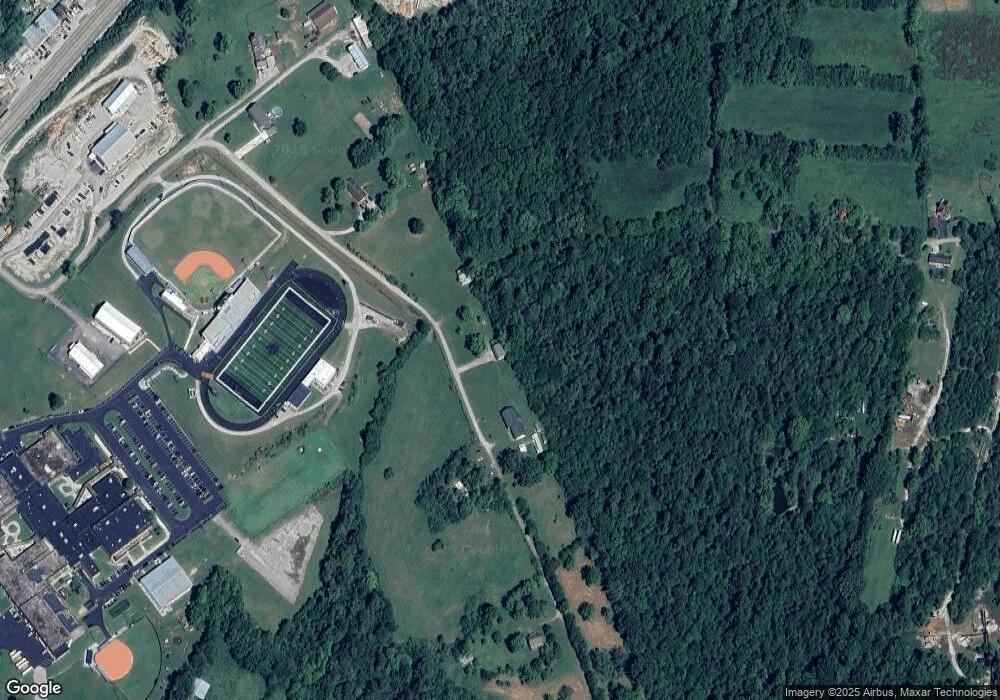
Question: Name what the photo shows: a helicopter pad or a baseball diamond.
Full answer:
Of the two, only a baseball diamond appears.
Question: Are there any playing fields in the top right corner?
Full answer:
No, there is no playing field in the top right corner.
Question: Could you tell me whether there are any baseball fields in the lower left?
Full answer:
Yes, the scene does show a baseball field in the lower left.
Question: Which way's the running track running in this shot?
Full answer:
Seen from above, the running track lies at an angle.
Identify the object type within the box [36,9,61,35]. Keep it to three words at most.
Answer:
building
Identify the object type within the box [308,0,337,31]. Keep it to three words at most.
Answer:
barn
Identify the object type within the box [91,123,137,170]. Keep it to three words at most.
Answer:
building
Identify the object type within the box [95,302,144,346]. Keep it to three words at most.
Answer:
shed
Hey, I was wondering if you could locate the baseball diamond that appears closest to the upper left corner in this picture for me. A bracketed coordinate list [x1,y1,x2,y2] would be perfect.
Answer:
[134,179,281,309]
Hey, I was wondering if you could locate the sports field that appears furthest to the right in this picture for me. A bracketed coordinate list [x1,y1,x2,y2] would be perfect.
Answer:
[213,283,336,417]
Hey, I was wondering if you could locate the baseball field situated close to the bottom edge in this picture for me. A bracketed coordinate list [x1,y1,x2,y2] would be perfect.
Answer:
[95,618,160,700]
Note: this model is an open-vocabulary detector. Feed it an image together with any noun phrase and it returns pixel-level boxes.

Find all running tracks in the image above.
[201,259,348,432]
